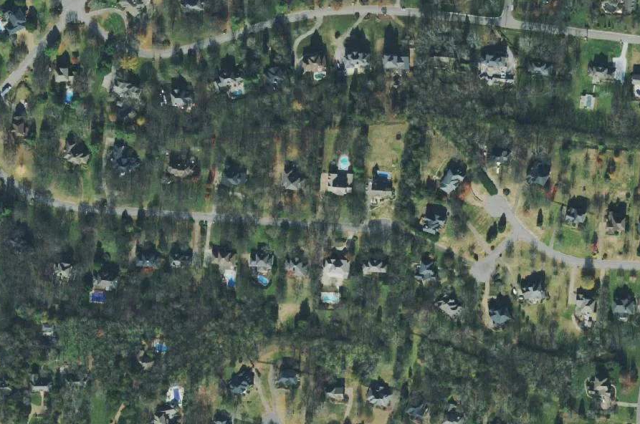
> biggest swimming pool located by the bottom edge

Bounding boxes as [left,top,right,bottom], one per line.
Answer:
[168,385,183,405]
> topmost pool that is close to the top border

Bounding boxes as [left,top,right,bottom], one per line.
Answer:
[599,1,619,15]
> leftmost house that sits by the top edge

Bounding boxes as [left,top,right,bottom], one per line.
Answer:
[0,8,27,30]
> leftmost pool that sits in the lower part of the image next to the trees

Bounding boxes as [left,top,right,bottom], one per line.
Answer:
[90,289,106,303]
